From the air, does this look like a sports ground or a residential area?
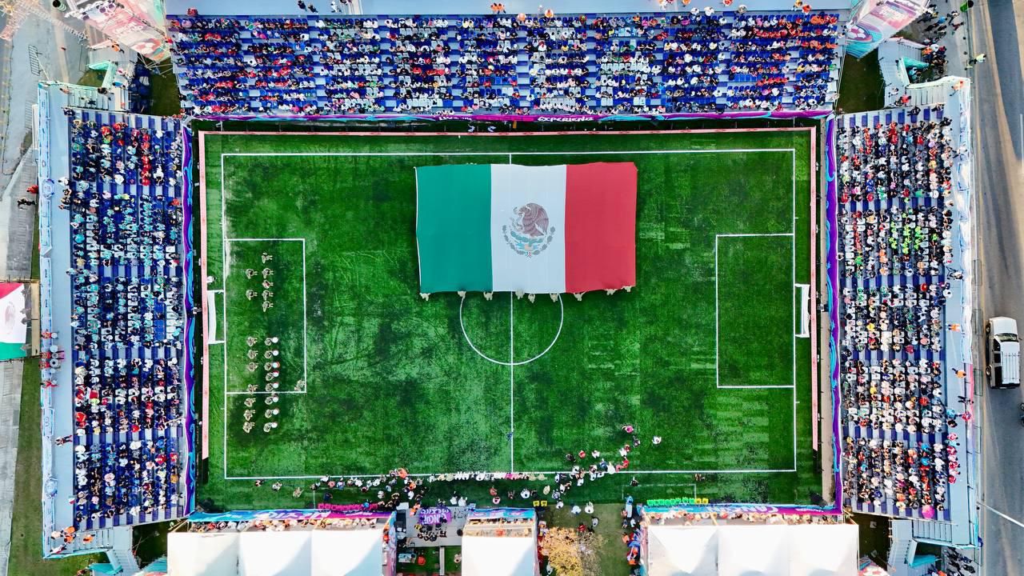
sports ground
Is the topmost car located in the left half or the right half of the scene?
right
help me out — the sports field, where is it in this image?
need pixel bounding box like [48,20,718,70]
[193,121,822,512]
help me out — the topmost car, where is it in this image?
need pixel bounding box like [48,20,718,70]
[986,317,1024,390]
